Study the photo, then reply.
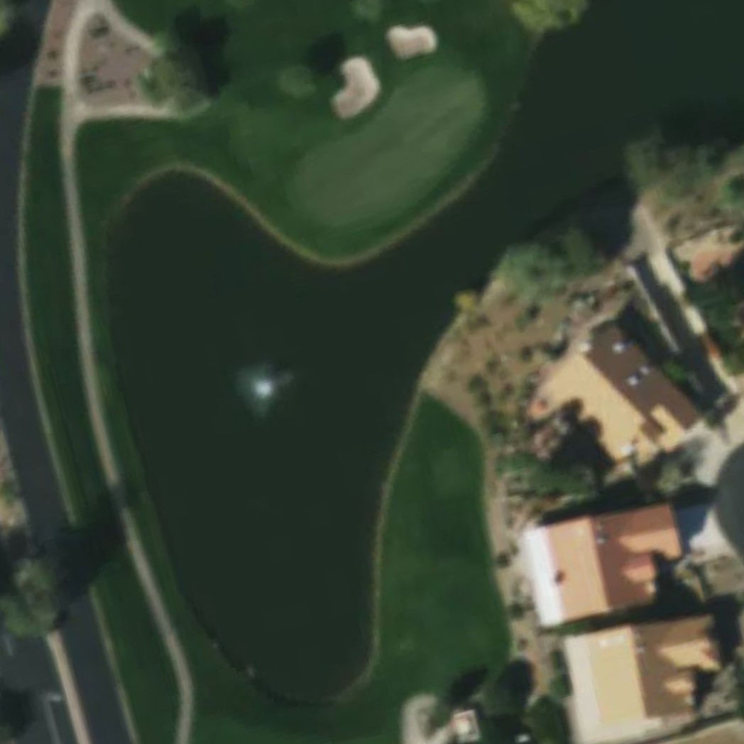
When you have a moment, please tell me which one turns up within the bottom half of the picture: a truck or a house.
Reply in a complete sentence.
The one visible within the bottom half of the picture is a house.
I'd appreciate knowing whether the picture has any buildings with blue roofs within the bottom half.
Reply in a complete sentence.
No, I can find no building with a blue roof within the bottom half.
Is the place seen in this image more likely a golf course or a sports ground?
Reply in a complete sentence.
The area seen from above is a golf course.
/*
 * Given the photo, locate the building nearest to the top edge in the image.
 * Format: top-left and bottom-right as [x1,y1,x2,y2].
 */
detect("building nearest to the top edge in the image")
[538,320,702,466]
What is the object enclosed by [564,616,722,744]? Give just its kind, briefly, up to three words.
house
